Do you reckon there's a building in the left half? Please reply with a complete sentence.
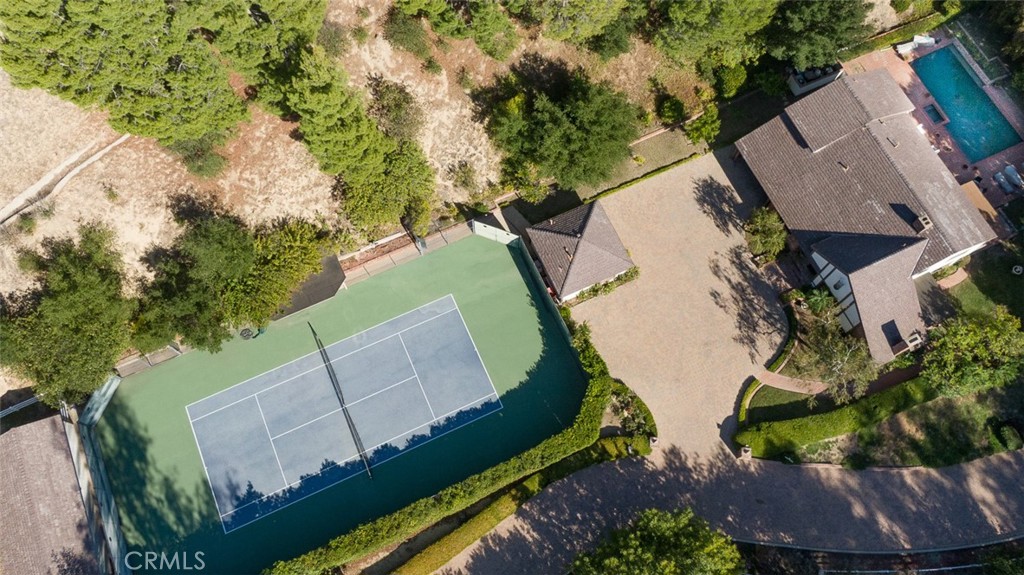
Yes, a building appears in the left half.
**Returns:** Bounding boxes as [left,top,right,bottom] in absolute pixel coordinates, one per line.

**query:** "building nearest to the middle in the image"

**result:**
[524,198,635,302]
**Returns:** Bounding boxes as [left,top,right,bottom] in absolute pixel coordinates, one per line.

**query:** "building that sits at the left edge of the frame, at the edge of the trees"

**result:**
[0,416,110,575]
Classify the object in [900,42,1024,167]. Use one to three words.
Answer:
swimming pool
